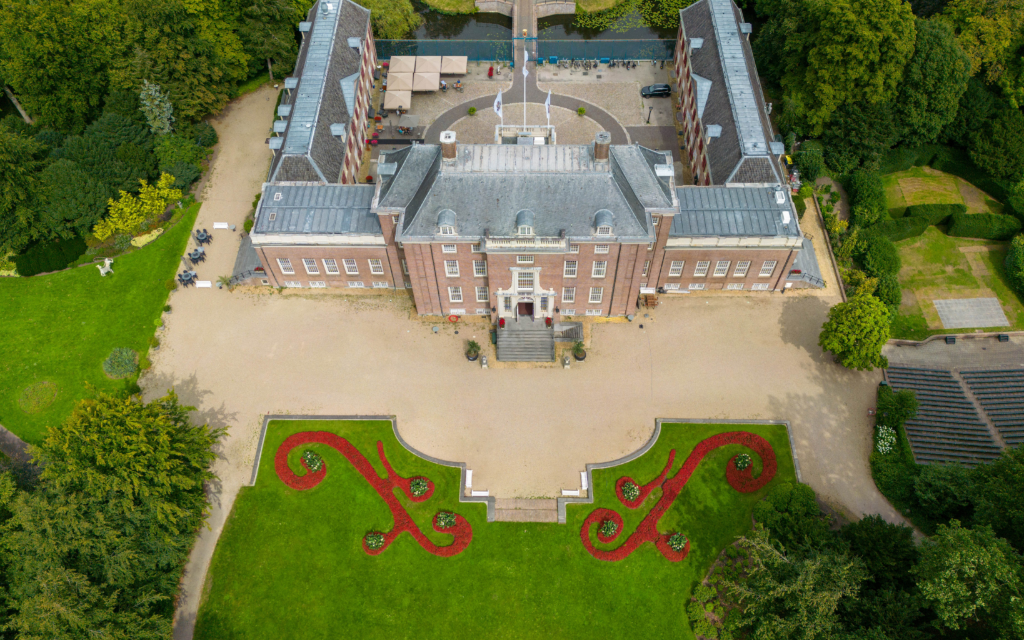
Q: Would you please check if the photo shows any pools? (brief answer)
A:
No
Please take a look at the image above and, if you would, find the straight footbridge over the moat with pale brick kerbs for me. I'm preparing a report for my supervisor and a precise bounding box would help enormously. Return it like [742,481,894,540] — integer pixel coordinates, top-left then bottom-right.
[512,0,537,63]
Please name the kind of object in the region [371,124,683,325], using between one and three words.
building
